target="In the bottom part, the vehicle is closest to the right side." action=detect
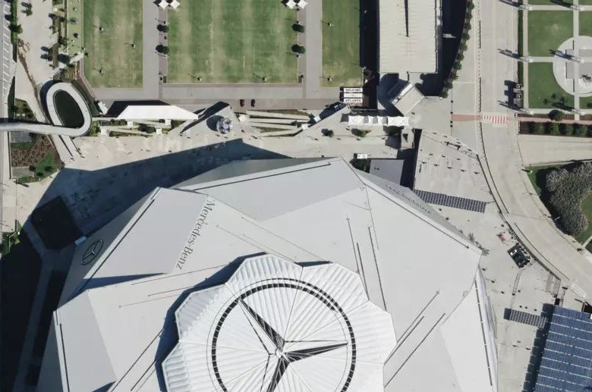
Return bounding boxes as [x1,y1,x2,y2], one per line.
[509,243,533,266]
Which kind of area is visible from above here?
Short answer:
sports ground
